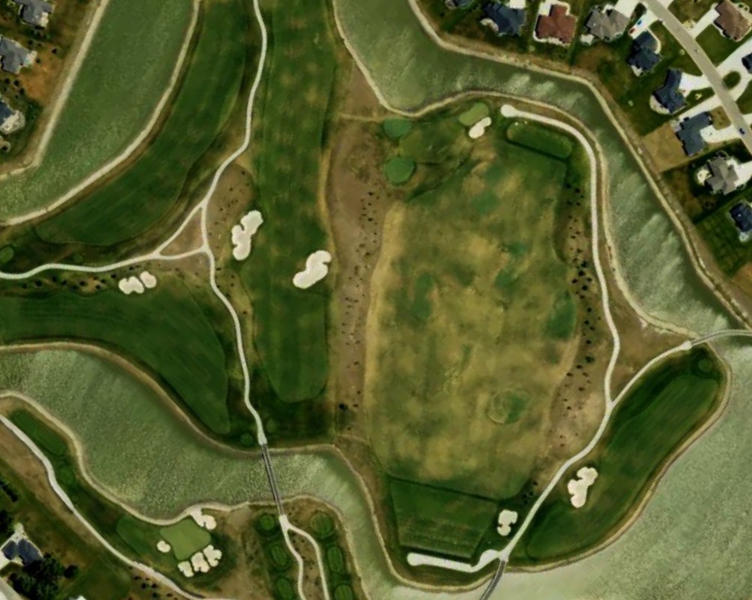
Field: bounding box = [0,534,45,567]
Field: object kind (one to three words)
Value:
house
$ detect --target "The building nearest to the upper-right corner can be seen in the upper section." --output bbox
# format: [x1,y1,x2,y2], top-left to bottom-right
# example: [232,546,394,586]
[712,0,752,39]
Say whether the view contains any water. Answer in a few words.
Yes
